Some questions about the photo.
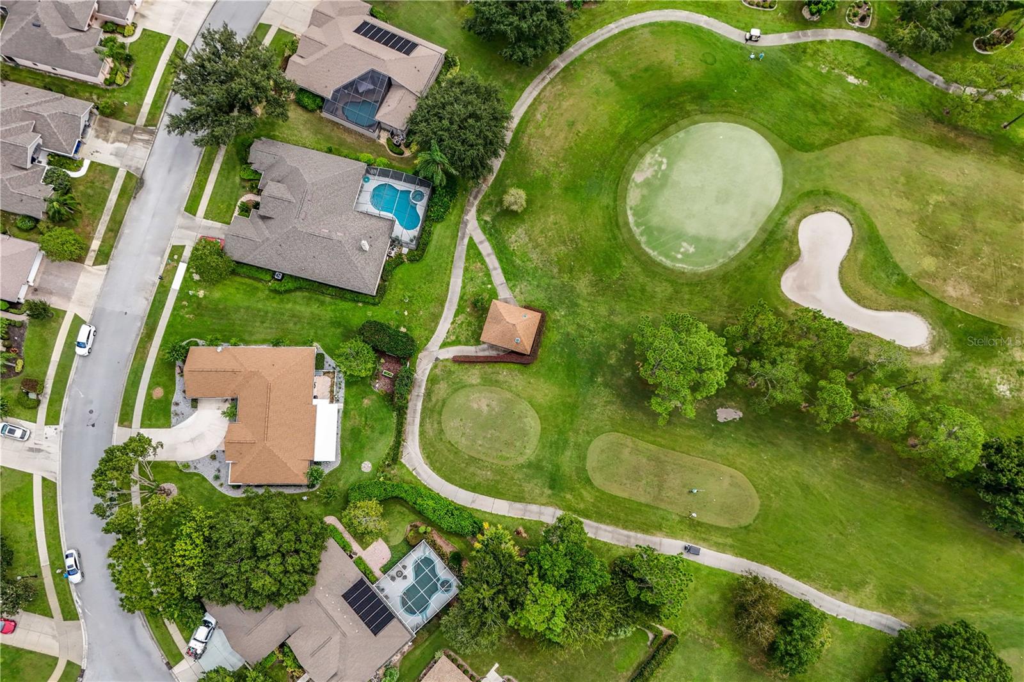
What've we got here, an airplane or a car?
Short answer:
car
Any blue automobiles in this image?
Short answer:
No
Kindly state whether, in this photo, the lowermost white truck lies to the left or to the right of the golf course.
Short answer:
left of it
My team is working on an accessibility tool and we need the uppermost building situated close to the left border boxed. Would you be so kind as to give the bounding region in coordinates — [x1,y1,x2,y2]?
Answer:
[0,0,145,85]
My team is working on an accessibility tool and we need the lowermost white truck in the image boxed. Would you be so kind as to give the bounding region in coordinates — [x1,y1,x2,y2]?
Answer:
[181,615,217,664]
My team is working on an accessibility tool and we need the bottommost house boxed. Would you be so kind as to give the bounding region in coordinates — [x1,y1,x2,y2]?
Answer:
[419,654,471,682]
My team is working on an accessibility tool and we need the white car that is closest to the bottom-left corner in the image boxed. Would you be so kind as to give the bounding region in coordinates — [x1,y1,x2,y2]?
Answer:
[65,547,86,585]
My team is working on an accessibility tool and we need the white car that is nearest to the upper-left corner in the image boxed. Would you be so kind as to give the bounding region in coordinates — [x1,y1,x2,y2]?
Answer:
[76,325,97,355]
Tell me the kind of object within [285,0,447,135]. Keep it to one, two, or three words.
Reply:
house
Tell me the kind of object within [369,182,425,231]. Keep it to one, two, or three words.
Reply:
swimming pool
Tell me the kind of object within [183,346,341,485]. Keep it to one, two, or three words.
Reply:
house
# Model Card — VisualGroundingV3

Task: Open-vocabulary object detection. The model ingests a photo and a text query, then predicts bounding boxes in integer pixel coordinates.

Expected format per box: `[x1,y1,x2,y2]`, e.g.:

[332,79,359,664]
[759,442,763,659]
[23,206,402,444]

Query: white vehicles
[181,615,217,664]
[65,547,86,585]
[746,28,763,42]
[0,423,32,442]
[76,325,97,355]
